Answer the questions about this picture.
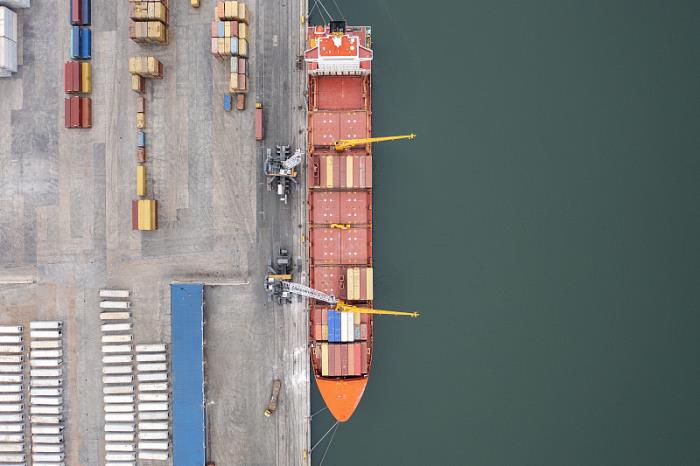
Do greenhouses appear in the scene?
No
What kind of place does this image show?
port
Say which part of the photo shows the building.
bottom left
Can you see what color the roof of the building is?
blue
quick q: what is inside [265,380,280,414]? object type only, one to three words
vehicle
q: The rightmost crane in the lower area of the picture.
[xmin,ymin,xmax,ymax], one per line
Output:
[334,297,420,316]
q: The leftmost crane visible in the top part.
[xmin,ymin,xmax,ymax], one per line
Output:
[262,147,308,195]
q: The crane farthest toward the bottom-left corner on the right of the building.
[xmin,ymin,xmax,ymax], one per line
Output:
[263,251,343,306]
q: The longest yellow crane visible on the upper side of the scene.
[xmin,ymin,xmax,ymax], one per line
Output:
[335,134,416,153]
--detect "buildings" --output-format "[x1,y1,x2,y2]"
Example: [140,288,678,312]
[170,283,206,466]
